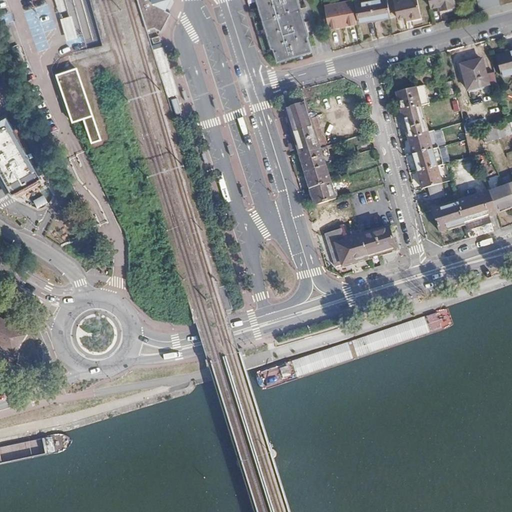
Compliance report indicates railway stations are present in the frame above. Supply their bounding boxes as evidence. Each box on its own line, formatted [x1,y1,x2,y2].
[65,0,98,48]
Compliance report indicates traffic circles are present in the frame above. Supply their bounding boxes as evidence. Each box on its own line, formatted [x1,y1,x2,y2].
[52,288,143,379]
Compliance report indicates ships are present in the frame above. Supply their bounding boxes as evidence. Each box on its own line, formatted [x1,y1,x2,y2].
[0,435,72,465]
[256,312,454,386]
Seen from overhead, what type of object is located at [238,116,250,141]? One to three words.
vehicle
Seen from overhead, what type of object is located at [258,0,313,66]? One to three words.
building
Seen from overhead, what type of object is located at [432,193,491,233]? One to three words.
house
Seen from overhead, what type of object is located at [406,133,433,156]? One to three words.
house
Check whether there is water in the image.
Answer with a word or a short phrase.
Yes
